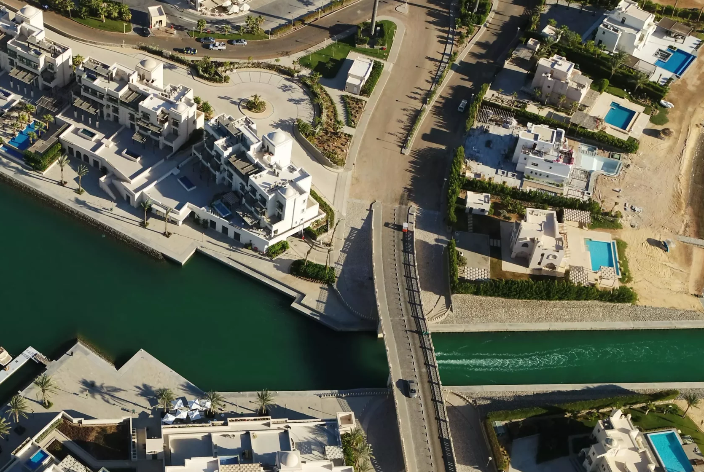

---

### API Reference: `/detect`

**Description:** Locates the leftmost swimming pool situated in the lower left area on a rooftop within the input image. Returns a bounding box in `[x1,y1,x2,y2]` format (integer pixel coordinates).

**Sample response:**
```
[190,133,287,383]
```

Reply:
[23,450,52,472]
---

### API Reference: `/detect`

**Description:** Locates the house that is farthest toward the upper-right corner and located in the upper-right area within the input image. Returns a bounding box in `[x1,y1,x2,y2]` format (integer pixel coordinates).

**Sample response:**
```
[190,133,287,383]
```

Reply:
[593,0,656,55]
